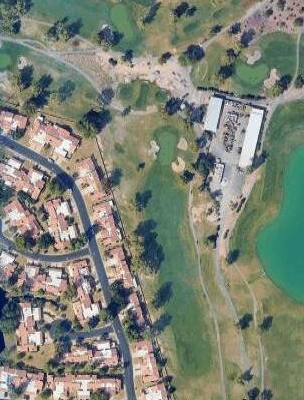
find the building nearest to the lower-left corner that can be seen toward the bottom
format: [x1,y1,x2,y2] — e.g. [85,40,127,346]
[0,364,46,398]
